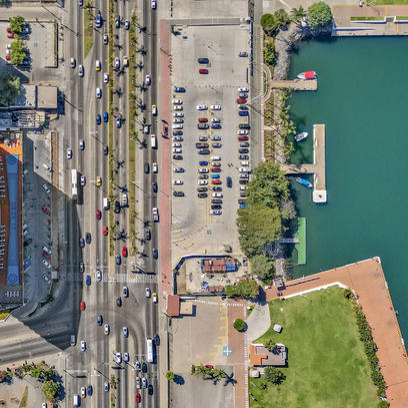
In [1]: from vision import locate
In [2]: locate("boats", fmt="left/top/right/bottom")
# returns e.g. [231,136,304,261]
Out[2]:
[294,134,309,141]
[296,176,313,186]
[298,72,318,79]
